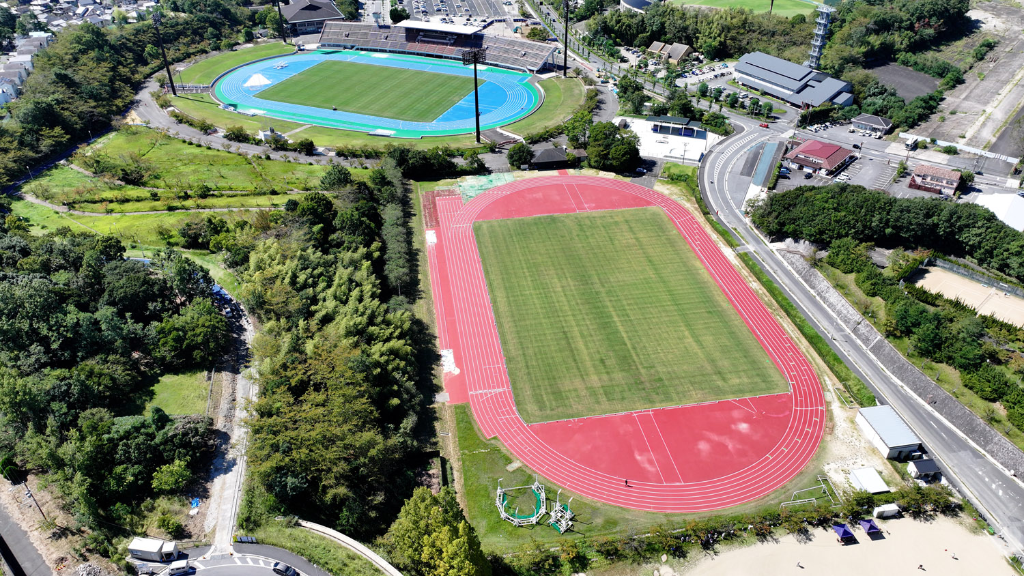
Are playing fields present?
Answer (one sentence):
Yes, this view includes a playing field.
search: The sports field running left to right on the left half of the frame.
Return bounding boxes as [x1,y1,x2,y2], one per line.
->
[254,60,485,122]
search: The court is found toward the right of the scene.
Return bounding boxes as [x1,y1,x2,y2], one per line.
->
[904,266,1024,326]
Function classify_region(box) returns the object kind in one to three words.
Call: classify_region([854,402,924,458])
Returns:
shed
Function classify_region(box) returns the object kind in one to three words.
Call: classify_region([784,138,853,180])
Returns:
building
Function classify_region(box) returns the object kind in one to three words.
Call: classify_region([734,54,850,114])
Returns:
building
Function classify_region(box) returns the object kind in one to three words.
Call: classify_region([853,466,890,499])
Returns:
shed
